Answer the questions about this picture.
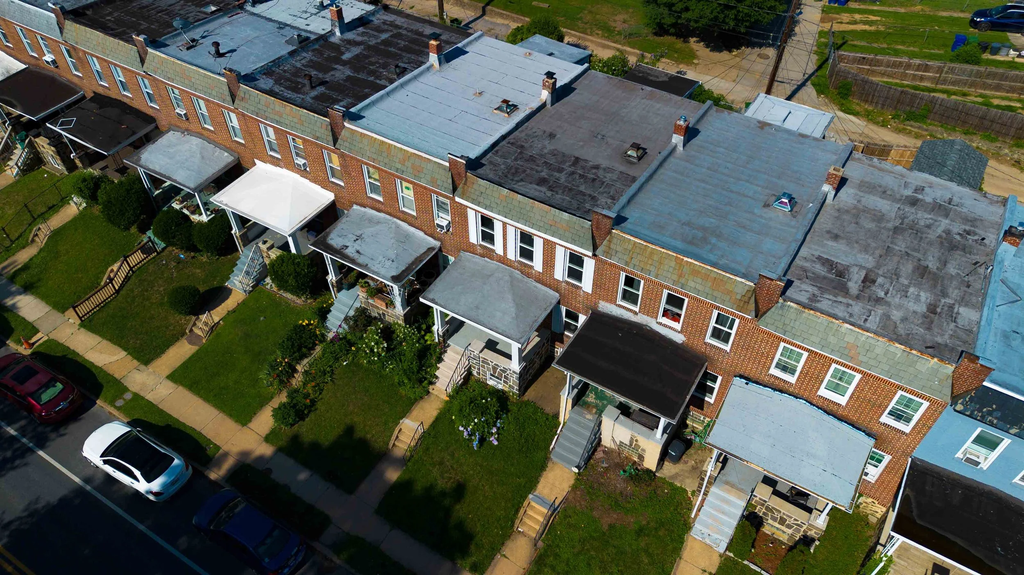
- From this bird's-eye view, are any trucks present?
No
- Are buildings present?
Yes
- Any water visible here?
No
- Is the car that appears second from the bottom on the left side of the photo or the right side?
left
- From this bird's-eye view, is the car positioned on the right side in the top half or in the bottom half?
top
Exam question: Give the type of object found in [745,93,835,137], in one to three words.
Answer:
building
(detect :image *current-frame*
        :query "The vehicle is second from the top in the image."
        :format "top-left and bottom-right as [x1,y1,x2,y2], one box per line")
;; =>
[0,358,85,430]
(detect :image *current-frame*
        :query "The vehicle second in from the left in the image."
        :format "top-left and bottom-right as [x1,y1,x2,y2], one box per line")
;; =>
[87,423,192,506]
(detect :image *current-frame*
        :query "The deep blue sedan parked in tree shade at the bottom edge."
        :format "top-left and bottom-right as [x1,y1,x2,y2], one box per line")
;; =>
[195,490,310,575]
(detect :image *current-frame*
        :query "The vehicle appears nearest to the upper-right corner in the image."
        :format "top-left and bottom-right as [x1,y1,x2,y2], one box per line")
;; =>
[969,4,1024,42]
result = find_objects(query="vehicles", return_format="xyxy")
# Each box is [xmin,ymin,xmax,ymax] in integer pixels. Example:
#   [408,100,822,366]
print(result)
[87,423,192,506]
[969,4,1024,42]
[195,490,310,575]
[0,358,85,430]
